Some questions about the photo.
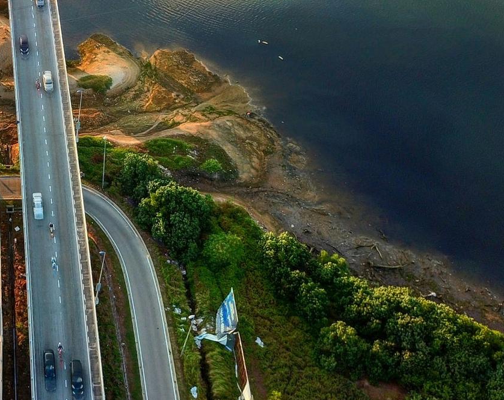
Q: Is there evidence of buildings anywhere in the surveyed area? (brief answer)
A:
No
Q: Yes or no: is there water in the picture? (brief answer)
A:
Yes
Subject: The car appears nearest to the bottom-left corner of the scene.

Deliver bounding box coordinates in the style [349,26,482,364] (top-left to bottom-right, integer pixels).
[42,352,59,384]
